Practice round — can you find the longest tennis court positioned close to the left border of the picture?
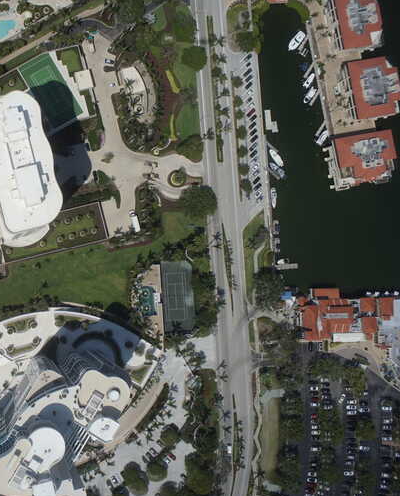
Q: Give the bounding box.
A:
[17,53,81,132]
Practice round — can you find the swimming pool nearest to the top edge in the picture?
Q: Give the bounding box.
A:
[0,18,18,39]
